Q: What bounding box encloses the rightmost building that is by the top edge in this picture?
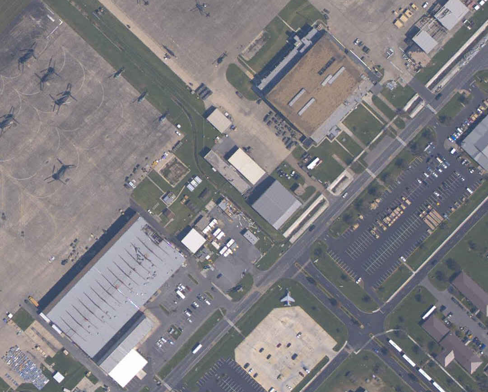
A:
[435,0,470,30]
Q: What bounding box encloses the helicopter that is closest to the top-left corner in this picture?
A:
[13,44,38,72]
